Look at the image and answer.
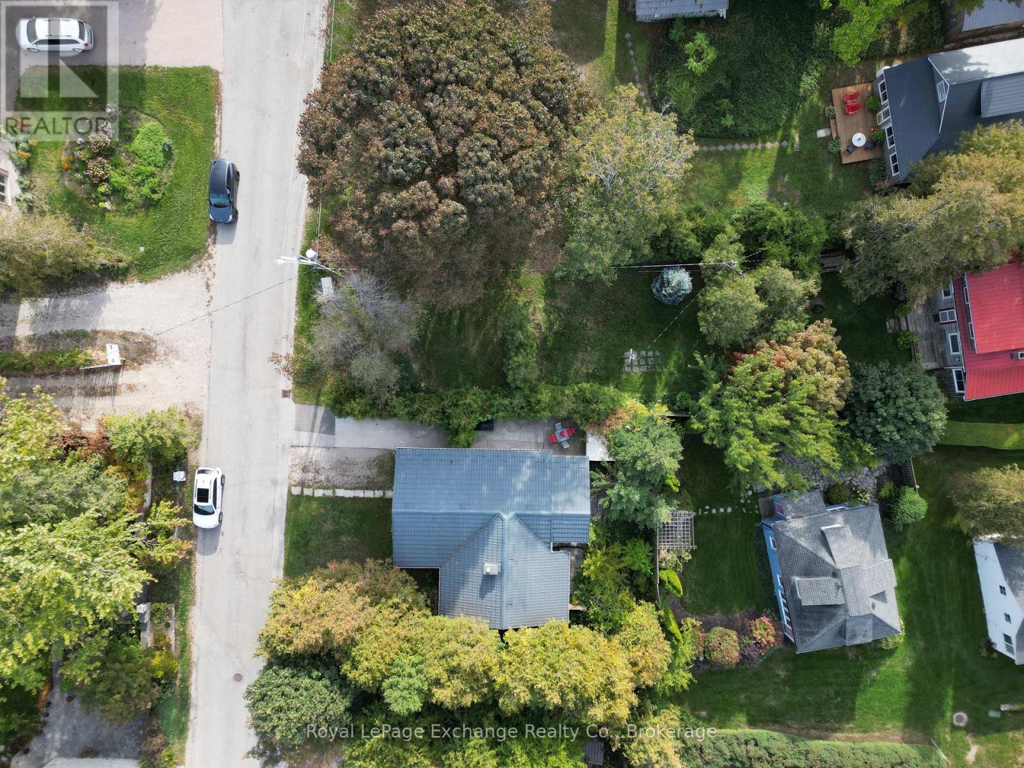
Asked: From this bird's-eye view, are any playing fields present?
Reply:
No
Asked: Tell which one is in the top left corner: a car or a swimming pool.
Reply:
car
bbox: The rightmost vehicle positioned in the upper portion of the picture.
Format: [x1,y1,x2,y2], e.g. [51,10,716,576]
[203,157,239,224]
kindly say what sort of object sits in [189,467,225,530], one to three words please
car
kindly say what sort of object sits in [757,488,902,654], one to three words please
house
